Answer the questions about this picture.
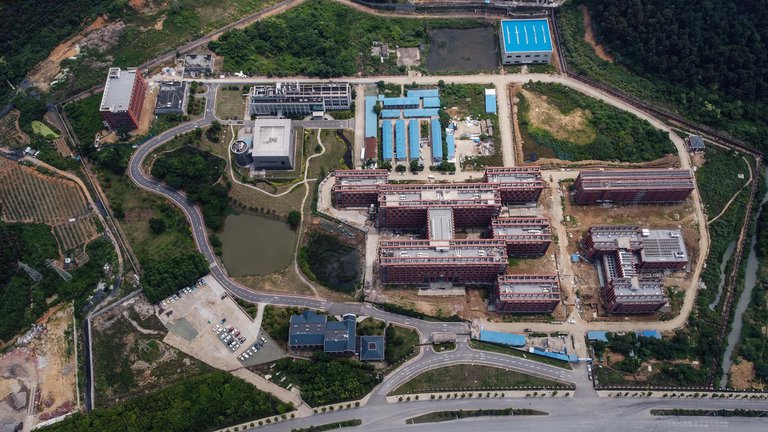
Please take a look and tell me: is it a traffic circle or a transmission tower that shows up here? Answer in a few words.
transmission tower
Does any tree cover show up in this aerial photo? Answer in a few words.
Yes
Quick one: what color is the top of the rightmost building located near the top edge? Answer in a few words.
blue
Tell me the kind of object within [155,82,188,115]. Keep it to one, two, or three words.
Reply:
building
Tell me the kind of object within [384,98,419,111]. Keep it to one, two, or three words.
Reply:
shed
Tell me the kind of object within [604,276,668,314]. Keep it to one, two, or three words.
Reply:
building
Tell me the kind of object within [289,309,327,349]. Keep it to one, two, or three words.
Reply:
house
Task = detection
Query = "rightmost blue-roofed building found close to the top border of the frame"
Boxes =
[499,18,554,64]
